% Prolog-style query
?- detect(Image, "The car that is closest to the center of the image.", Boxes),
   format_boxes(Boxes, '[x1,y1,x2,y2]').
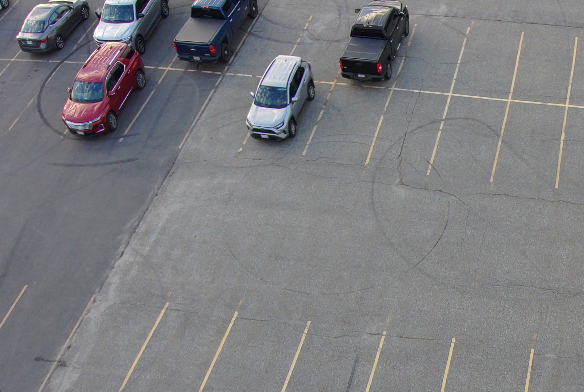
[246,54,313,143]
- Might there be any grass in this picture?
No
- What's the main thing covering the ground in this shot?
paved ground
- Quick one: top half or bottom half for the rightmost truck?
top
